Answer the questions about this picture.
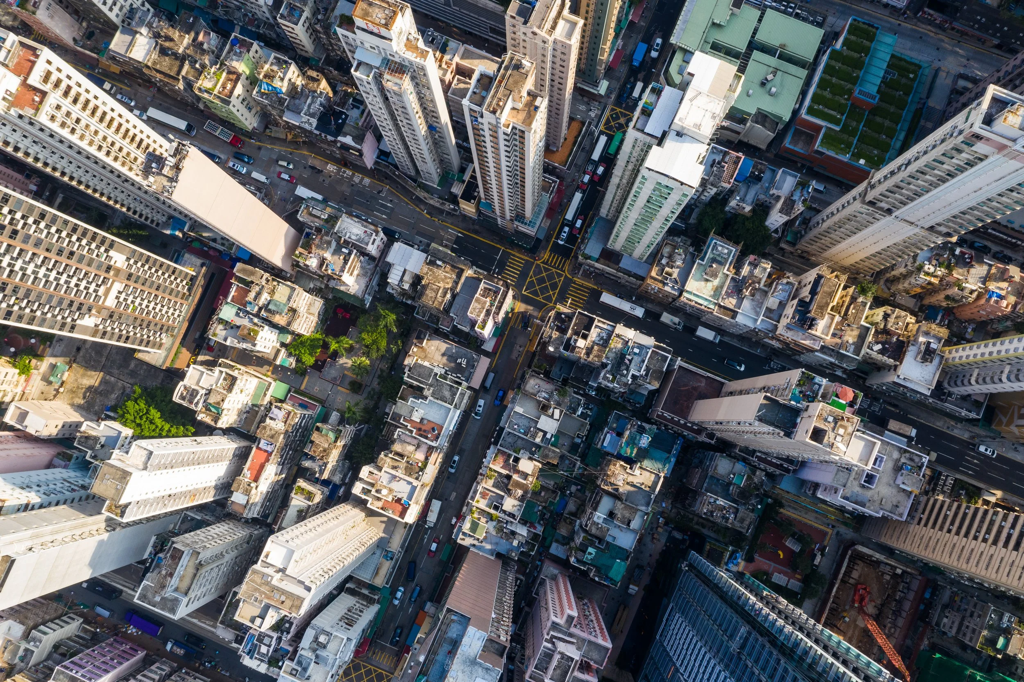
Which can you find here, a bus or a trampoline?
bus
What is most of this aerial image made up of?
buildings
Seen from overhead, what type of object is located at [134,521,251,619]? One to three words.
building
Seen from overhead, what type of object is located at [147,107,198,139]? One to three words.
bus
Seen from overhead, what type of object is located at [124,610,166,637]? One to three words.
truck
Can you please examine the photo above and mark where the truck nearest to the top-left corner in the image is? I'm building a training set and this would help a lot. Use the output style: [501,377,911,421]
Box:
[87,71,119,94]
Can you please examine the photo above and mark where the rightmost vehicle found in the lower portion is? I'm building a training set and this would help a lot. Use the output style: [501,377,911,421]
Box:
[972,445,995,459]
